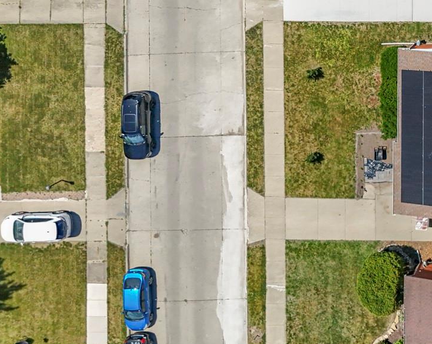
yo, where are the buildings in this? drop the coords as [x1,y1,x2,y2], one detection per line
[404,251,432,344]
[382,42,432,231]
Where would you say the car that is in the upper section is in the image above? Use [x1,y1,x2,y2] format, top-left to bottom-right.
[118,88,158,158]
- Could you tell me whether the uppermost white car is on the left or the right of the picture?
left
